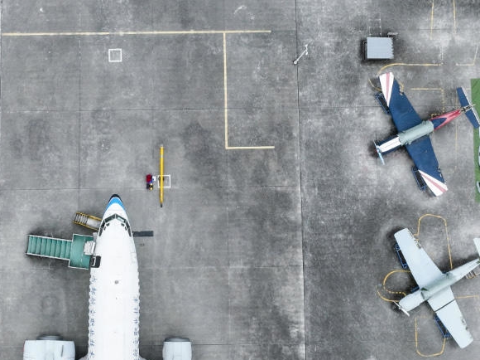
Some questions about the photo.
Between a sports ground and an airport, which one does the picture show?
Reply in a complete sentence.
The picture captures an airport.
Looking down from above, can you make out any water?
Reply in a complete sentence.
No, there is no water in the image.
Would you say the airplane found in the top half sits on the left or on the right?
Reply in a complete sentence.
The airplane found in the top half is on the right side of the image.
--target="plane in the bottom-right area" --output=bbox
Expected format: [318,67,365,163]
[394,229,480,348]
